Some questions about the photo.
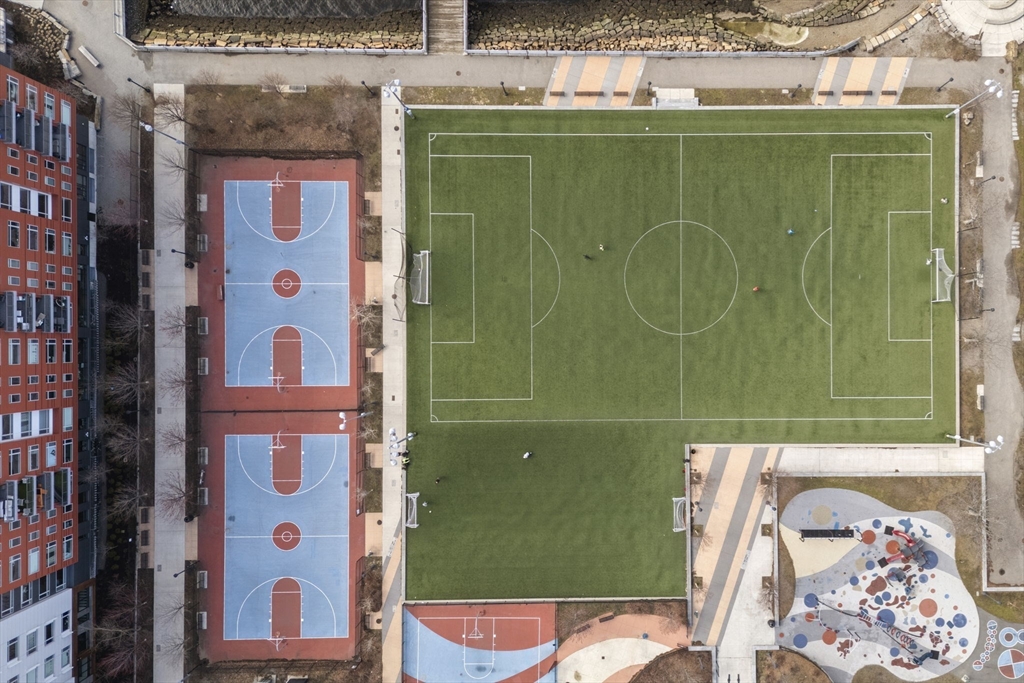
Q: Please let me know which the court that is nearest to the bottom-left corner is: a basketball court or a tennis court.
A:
basketball court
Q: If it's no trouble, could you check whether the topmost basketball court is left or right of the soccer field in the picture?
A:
left of it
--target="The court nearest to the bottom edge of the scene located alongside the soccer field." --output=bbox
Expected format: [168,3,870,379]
[404,604,556,683]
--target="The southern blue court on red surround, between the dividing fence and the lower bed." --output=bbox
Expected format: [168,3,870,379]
[200,412,363,661]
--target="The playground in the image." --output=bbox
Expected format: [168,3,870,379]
[777,488,979,683]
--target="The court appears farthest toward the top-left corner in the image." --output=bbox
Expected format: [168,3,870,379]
[198,157,363,411]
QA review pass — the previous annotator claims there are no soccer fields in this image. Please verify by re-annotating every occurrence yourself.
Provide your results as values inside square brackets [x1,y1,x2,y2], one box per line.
[400,105,959,603]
